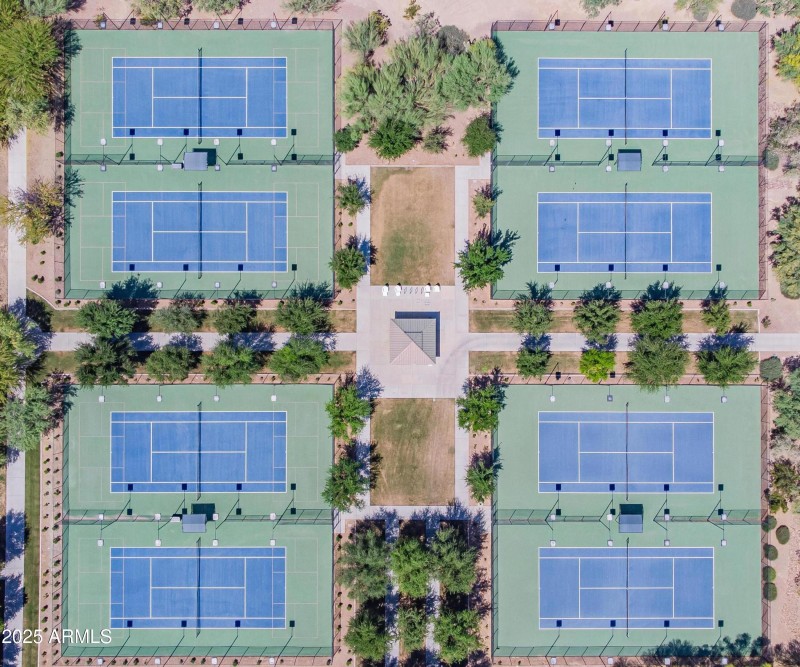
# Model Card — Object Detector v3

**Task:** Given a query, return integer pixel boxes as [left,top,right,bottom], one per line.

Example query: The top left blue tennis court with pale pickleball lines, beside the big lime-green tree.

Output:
[63,30,334,165]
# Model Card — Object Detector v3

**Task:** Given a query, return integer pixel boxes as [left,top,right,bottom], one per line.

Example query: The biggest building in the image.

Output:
[390,319,436,365]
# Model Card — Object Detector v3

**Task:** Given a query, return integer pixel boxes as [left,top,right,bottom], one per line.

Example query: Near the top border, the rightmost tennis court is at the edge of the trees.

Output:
[491,31,759,165]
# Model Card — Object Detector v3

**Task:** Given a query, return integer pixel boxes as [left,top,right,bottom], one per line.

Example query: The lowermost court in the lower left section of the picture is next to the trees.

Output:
[62,521,333,656]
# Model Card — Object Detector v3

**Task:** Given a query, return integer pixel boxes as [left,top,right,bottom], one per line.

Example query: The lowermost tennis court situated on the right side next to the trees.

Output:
[492,521,761,656]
